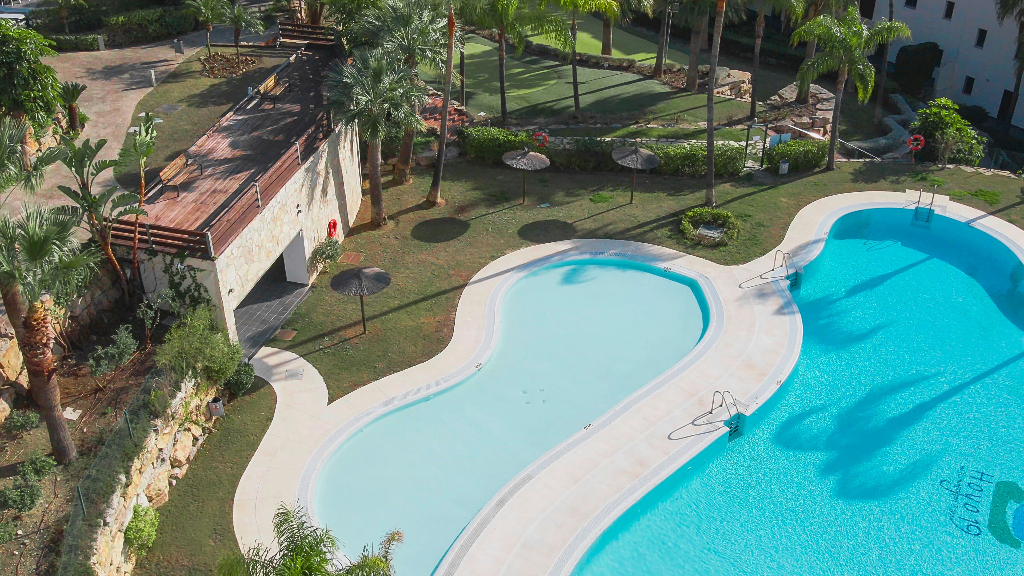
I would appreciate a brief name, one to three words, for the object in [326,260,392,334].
umbrella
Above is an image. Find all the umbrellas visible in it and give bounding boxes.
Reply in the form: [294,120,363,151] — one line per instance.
[499,142,548,203]
[326,260,392,334]
[610,142,660,203]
